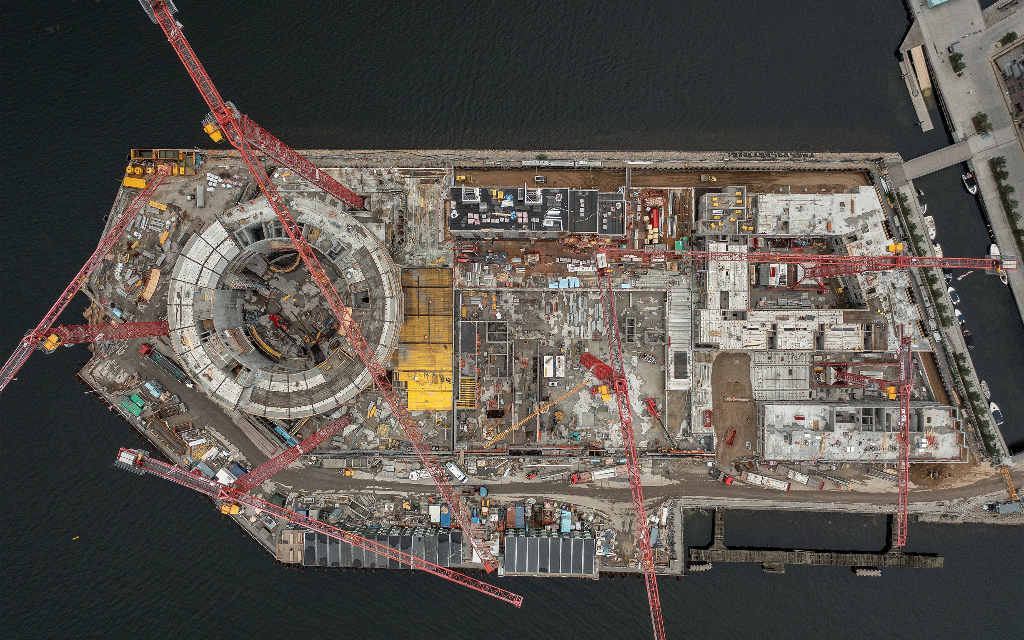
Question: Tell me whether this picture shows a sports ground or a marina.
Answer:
marina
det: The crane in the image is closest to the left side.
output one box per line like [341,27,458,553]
[0,163,176,386]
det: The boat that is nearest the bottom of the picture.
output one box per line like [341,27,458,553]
[992,404,1006,426]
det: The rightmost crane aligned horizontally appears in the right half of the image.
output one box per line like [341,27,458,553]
[593,245,1018,294]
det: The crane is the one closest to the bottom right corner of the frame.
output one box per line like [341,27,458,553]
[811,325,920,548]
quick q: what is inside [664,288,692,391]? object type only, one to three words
building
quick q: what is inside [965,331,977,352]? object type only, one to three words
boat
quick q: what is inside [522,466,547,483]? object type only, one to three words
work vehicle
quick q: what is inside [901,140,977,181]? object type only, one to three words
bridge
